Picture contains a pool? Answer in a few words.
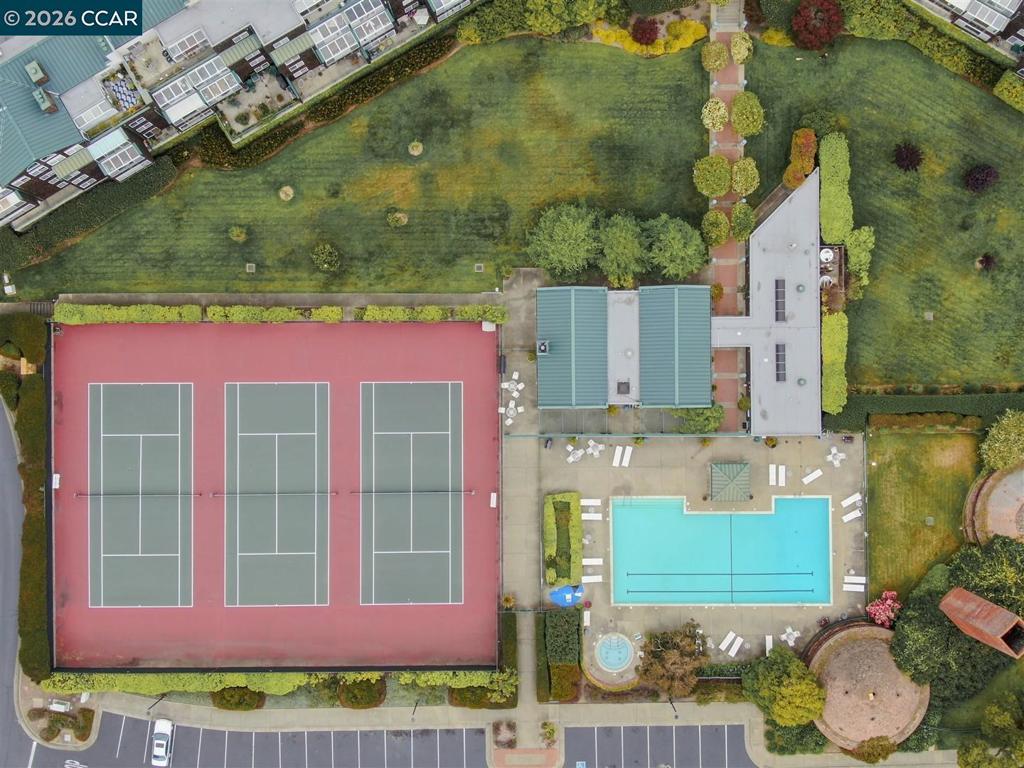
Yes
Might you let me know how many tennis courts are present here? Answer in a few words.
3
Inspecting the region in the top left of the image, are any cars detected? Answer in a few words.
No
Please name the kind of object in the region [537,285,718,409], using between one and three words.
building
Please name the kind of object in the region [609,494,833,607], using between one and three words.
swimming pool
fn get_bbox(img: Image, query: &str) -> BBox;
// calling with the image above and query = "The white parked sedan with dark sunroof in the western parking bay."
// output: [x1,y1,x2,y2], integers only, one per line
[151,718,175,766]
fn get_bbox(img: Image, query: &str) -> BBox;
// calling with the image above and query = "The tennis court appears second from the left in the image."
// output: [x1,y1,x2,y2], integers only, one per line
[212,382,339,606]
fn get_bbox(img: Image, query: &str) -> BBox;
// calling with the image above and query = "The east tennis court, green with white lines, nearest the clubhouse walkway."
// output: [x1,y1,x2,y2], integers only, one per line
[349,381,474,605]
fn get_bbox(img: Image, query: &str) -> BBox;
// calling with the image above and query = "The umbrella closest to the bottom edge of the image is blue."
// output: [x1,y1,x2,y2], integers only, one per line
[550,585,584,607]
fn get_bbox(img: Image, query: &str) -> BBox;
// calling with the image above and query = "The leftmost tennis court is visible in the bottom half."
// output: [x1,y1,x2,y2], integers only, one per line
[74,383,203,607]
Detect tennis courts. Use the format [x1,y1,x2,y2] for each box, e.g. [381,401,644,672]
[212,382,339,606]
[349,381,474,605]
[74,383,203,607]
